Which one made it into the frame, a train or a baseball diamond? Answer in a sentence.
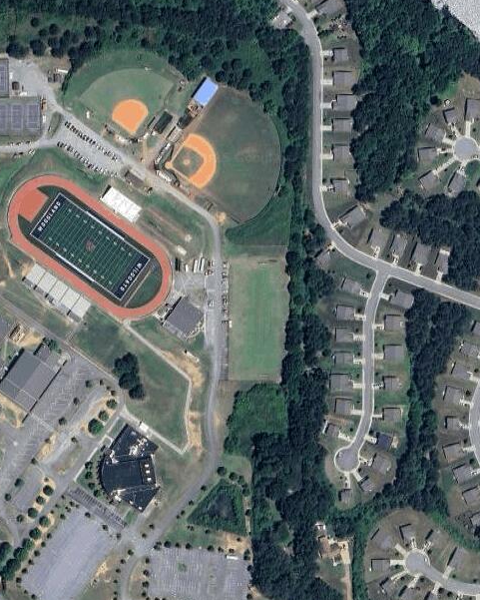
The image shows a baseball diamond.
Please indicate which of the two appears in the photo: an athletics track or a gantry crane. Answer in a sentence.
There is an athletics track in the scene.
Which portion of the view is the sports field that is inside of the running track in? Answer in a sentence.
The sports field that is inside of the running track is in the left part of the image.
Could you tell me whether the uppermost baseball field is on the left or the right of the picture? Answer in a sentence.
It is on the left.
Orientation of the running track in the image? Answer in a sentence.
What the image shows is the running track lying diagonally.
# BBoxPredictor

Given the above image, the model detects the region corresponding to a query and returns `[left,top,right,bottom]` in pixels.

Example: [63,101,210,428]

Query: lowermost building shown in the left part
[99,425,158,513]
